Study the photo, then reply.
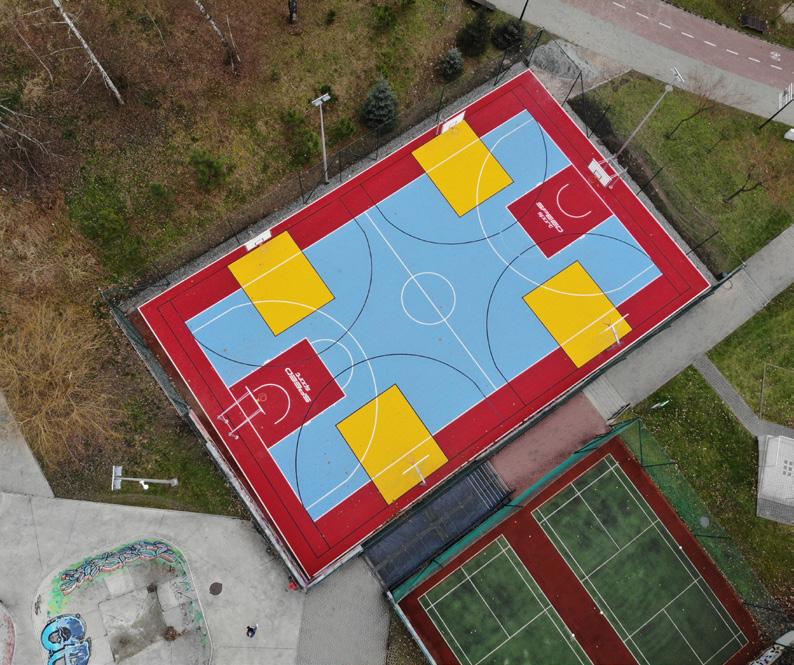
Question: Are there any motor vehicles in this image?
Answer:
No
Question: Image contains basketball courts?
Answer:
Yes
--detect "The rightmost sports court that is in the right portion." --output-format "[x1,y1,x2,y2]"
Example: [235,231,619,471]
[531,453,751,665]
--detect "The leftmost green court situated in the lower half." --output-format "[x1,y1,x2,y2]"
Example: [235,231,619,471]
[418,535,594,665]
